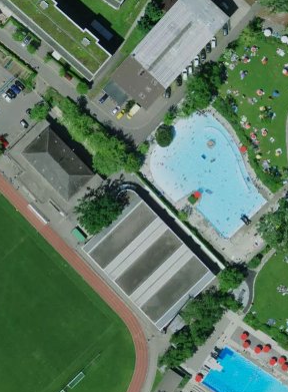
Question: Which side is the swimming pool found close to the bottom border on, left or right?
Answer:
right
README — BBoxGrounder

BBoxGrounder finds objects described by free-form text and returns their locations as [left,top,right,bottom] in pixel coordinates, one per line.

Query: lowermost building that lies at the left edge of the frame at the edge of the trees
[9,119,104,214]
